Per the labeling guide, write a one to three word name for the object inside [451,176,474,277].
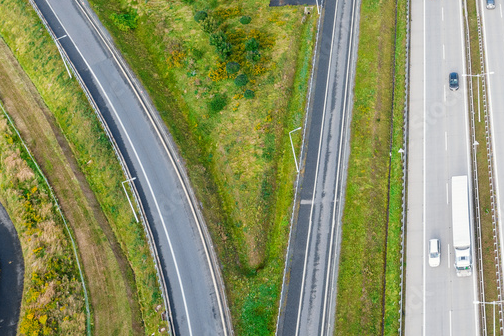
truck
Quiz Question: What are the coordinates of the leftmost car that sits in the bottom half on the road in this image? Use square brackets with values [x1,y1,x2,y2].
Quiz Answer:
[427,238,441,267]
